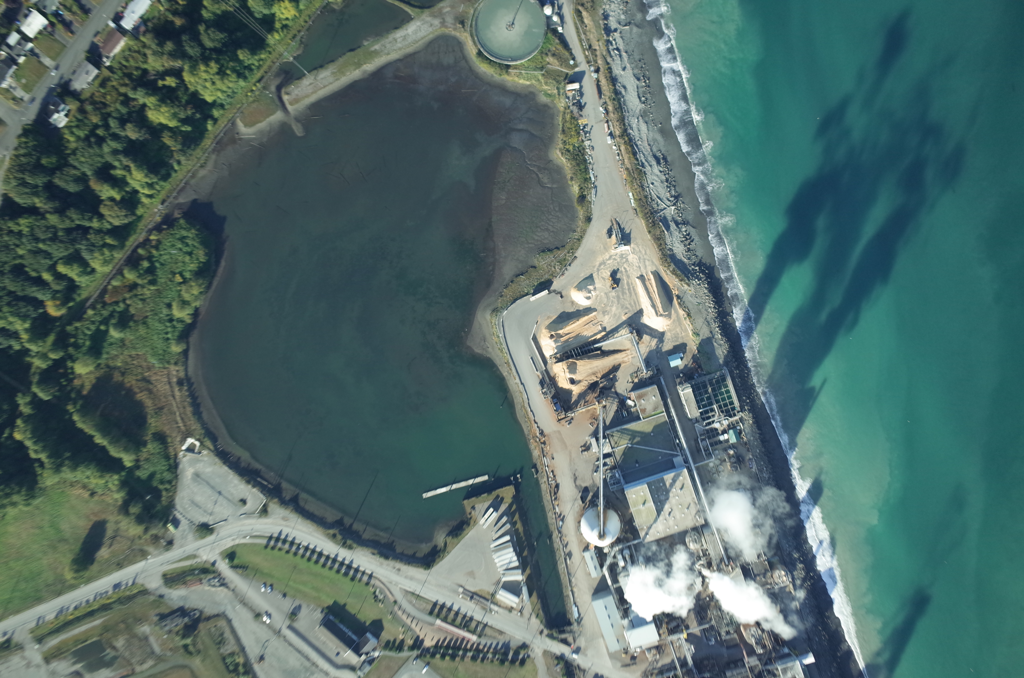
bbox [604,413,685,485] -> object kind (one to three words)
building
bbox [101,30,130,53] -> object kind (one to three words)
house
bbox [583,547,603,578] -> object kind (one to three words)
building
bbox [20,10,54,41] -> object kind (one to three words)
house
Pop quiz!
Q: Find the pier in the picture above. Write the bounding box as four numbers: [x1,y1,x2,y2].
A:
[423,474,488,499]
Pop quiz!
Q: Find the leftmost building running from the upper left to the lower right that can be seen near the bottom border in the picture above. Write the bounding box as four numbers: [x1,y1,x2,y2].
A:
[323,614,362,654]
